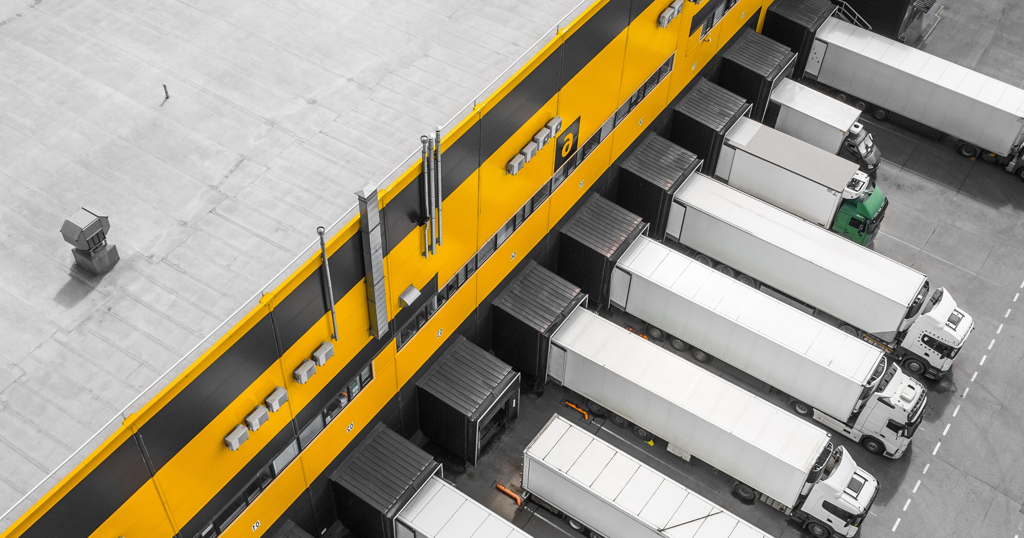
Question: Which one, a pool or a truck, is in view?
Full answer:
Looking from above, you can make out a truck.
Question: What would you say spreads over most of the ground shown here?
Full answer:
The bulk of the photo consists of buildings.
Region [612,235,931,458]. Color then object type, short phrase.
white truck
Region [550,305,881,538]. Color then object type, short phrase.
white truck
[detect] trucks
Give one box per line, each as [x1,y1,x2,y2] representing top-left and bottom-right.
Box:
[522,413,780,538]
[797,17,1024,177]
[667,172,972,377]
[612,235,931,458]
[719,116,889,248]
[399,474,538,538]
[550,305,881,538]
